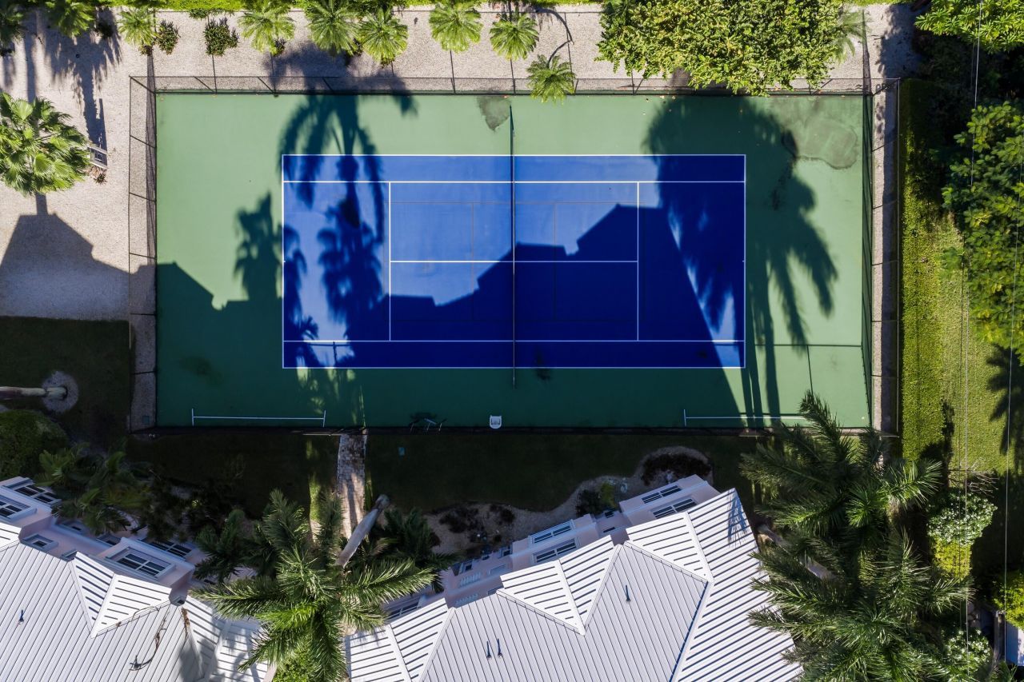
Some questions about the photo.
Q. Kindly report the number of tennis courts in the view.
1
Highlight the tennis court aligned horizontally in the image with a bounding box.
[155,89,873,427]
